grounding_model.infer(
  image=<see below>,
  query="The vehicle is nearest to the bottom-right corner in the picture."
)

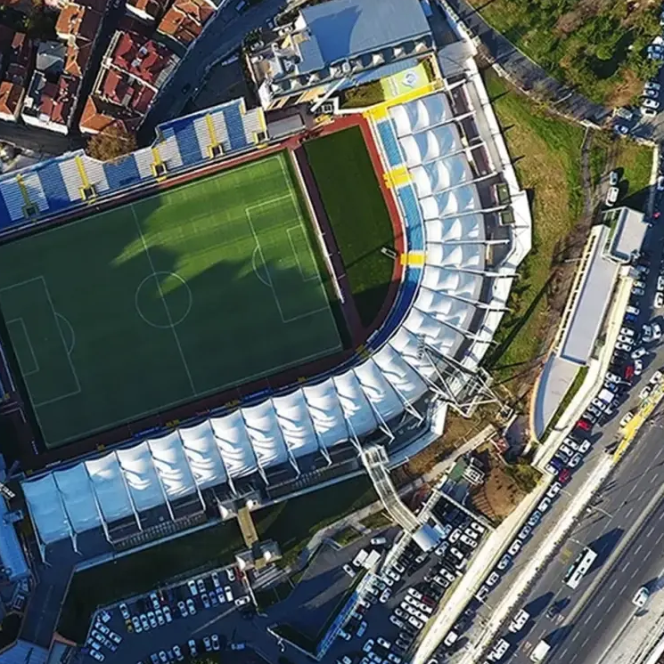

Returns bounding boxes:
[635,590,649,608]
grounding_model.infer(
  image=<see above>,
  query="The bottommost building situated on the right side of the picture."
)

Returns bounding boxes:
[413,519,446,552]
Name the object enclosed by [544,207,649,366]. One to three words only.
building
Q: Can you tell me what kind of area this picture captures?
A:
sports ground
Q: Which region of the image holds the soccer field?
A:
left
